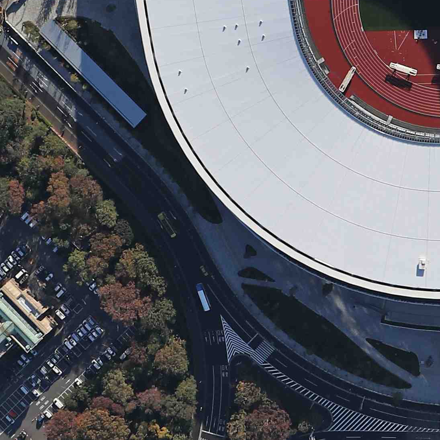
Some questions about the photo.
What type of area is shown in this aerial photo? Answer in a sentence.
What you see here is a sports ground.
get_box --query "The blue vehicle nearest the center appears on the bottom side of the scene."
[196,284,214,313]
